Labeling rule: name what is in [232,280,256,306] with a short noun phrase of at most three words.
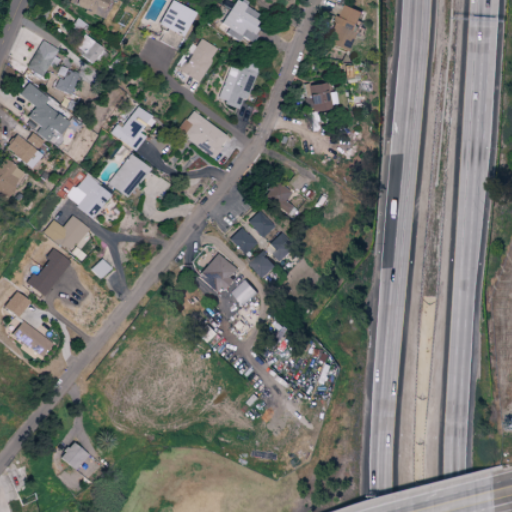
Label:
building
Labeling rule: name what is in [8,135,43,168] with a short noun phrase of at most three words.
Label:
house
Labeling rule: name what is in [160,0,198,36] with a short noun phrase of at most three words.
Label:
house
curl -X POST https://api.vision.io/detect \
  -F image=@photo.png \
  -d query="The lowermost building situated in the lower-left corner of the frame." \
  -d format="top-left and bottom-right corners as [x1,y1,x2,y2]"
[62,444,90,470]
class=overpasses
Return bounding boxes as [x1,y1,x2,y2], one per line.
[334,466,506,512]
